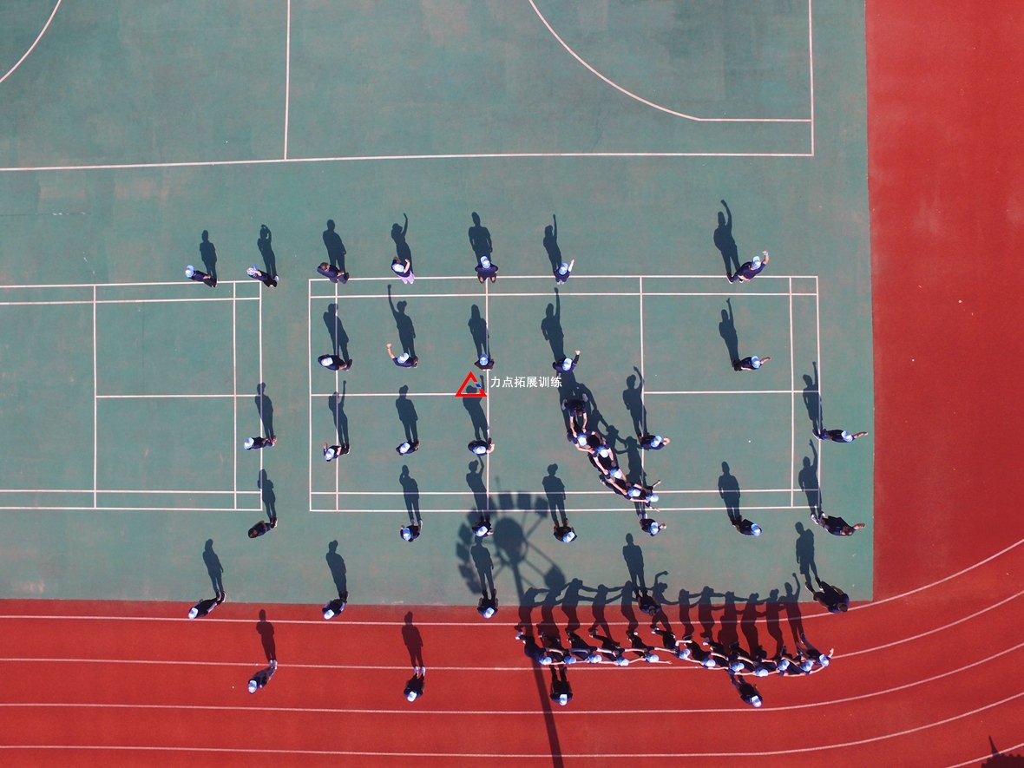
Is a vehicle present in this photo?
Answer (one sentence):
No, no vehicle is visible in the scene.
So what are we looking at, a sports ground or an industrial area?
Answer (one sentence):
This image shows a sports ground.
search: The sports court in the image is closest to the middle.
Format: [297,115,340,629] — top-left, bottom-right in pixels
[308,276,821,512]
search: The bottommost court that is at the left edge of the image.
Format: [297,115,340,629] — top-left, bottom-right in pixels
[0,280,262,511]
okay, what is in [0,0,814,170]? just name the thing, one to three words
basketball court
